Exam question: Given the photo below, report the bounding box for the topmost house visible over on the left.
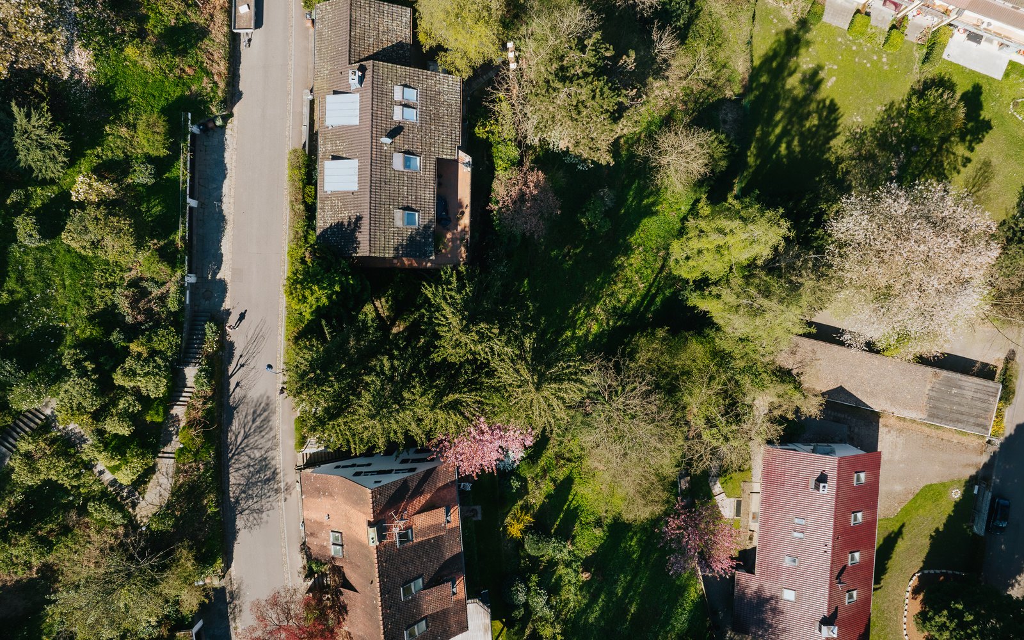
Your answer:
[313,0,472,268]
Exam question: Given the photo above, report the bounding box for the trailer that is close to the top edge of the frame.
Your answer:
[233,0,258,49]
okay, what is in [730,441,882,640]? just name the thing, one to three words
house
